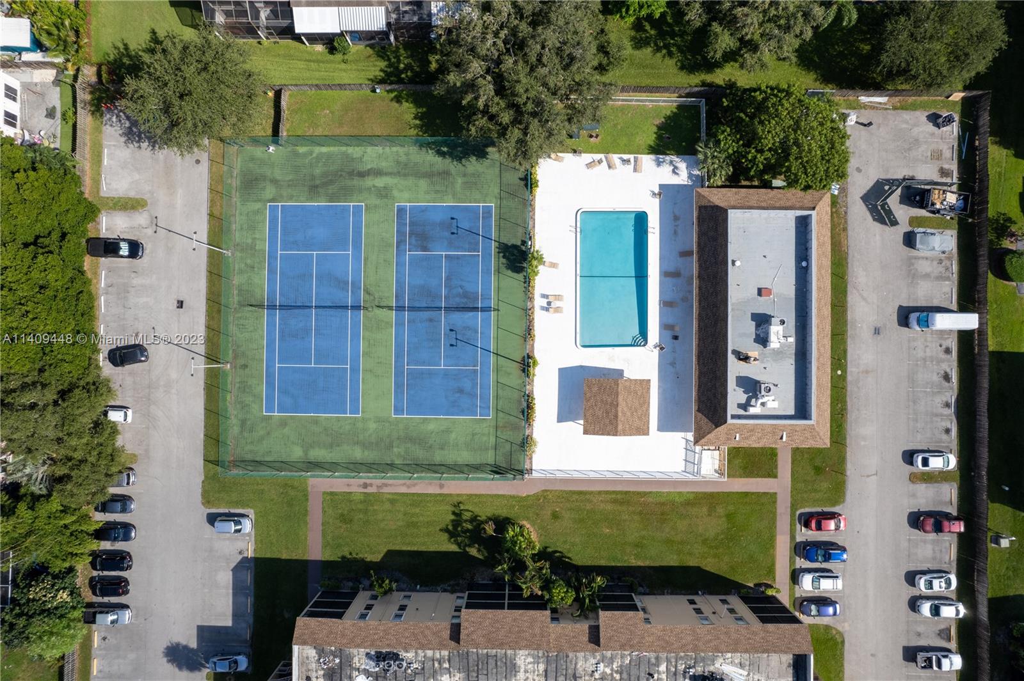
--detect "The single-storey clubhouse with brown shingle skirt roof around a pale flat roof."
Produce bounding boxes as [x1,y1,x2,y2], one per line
[691,188,831,447]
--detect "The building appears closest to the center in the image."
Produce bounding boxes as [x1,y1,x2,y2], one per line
[583,379,650,436]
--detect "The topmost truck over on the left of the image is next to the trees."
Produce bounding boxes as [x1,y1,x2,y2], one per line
[88,237,145,258]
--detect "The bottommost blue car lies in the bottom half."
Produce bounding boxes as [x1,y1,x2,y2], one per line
[208,653,250,675]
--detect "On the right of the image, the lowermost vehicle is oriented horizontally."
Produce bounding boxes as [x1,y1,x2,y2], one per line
[914,651,962,674]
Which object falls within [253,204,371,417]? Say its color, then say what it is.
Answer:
blue tennis court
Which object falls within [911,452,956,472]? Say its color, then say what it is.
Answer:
white car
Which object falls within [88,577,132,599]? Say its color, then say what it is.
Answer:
black car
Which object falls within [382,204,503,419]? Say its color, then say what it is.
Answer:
blue tennis court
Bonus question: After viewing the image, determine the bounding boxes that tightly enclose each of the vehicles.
[914,598,963,621]
[208,653,250,675]
[802,544,848,565]
[904,311,977,333]
[90,552,135,573]
[82,605,135,628]
[797,571,843,594]
[213,515,253,536]
[100,406,137,425]
[912,572,956,594]
[911,452,956,472]
[96,523,138,544]
[805,514,846,534]
[95,496,137,516]
[915,515,966,536]
[107,345,151,366]
[88,237,145,258]
[108,468,140,486]
[88,577,132,599]
[798,598,840,620]
[914,651,962,674]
